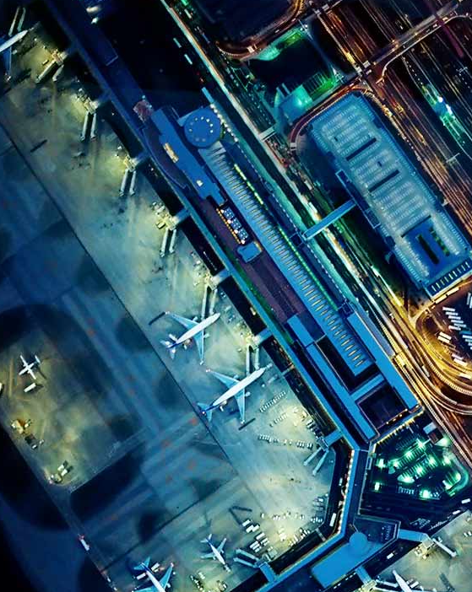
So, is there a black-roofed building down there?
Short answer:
Yes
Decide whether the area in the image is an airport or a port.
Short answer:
airport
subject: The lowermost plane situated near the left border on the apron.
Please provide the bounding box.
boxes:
[18,356,38,377]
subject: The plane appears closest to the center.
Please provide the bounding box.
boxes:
[157,307,219,364]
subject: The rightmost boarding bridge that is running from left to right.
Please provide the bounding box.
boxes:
[400,530,430,545]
